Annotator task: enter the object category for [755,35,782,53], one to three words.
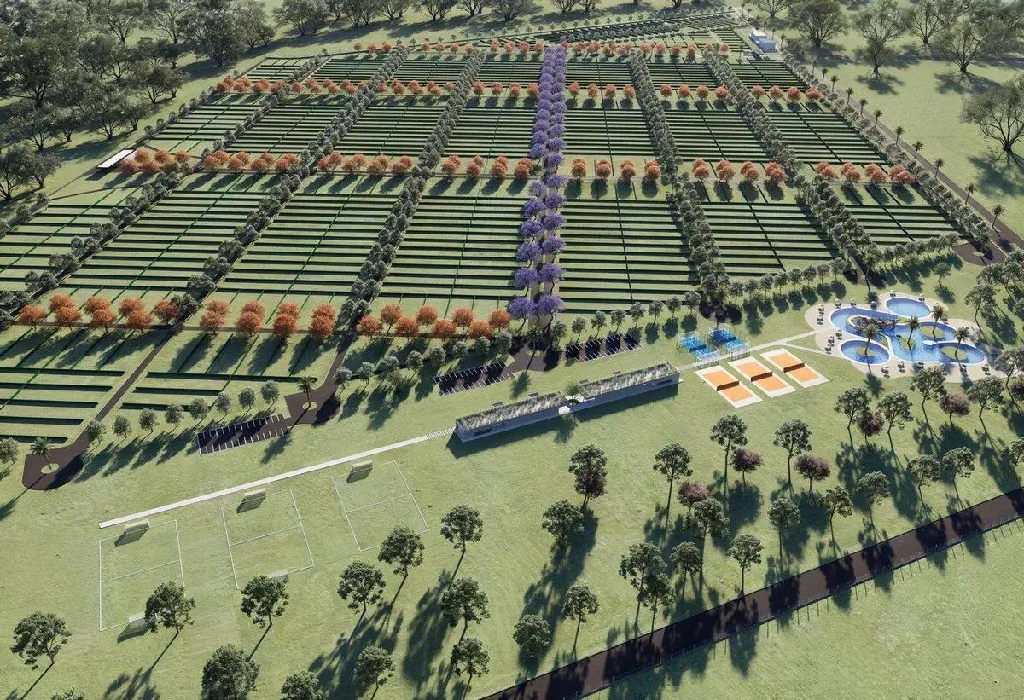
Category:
building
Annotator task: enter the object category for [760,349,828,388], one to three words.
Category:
sports court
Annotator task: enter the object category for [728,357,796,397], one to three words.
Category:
sports court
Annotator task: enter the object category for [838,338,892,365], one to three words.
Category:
swimming pool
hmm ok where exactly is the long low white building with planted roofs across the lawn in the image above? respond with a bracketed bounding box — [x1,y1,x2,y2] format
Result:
[454,364,682,444]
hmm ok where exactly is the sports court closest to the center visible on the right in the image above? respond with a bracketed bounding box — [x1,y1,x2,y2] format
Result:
[674,335,718,368]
